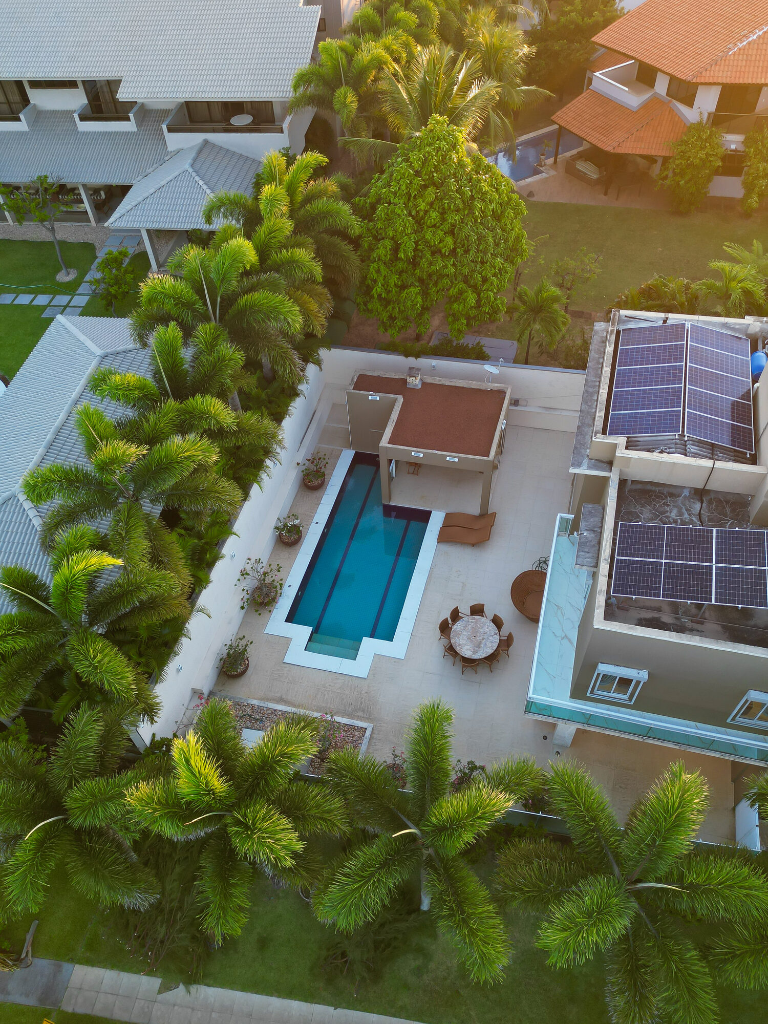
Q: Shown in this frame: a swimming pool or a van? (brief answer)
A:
swimming pool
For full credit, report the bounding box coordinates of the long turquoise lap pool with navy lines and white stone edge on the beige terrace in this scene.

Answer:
[263,448,446,679]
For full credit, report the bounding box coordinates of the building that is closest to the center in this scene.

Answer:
[346,366,510,512]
